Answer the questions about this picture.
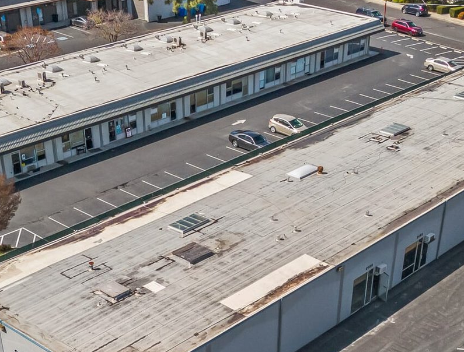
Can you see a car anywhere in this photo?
Yes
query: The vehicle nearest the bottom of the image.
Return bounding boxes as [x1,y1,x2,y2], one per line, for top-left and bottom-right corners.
[231,131,269,150]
